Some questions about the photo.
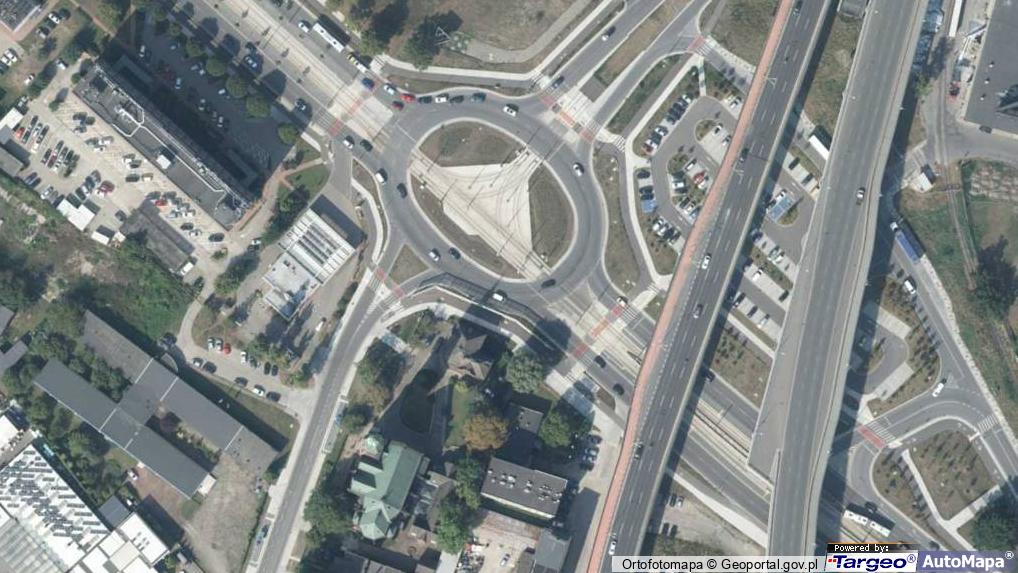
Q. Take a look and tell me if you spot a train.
Yes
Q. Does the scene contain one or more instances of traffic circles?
Yes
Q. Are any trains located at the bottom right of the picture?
Yes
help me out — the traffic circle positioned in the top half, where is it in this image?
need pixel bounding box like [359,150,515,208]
[350,71,606,338]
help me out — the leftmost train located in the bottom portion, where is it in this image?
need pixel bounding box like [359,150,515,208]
[842,510,891,537]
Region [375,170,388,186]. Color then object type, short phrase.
white vehicle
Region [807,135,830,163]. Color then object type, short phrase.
white truck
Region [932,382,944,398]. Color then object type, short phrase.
white vehicle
